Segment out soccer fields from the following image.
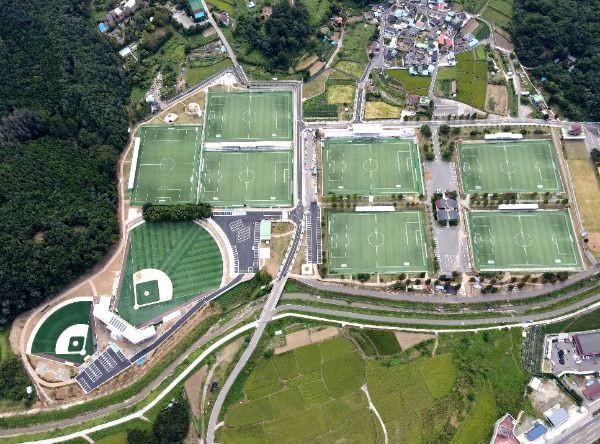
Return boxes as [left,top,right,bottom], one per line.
[321,136,425,196]
[458,139,564,194]
[204,89,294,142]
[129,123,203,206]
[200,149,294,208]
[327,209,429,274]
[469,209,583,271]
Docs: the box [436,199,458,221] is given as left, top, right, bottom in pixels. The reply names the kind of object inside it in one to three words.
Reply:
building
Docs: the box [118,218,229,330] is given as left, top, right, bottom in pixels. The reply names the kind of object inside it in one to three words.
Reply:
baseball field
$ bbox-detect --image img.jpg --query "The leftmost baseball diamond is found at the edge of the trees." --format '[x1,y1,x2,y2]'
[26,296,100,366]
